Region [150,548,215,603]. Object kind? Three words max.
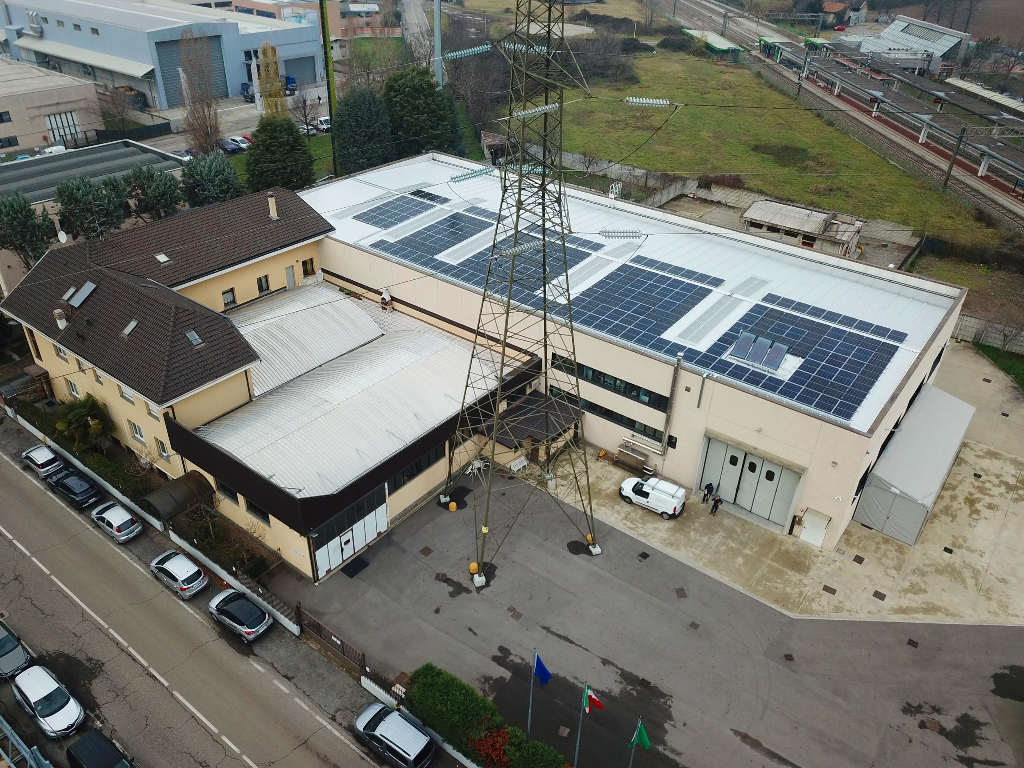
car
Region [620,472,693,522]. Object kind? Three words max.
van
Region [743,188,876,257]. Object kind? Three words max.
shed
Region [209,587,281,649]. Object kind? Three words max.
car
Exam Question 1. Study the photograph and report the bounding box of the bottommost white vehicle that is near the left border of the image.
[3,656,89,741]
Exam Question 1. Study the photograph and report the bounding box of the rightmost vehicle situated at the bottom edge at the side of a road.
[353,700,445,768]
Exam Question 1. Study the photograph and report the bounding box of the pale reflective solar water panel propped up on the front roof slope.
[62,278,96,319]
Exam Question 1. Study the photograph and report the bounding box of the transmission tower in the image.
[439,0,603,587]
